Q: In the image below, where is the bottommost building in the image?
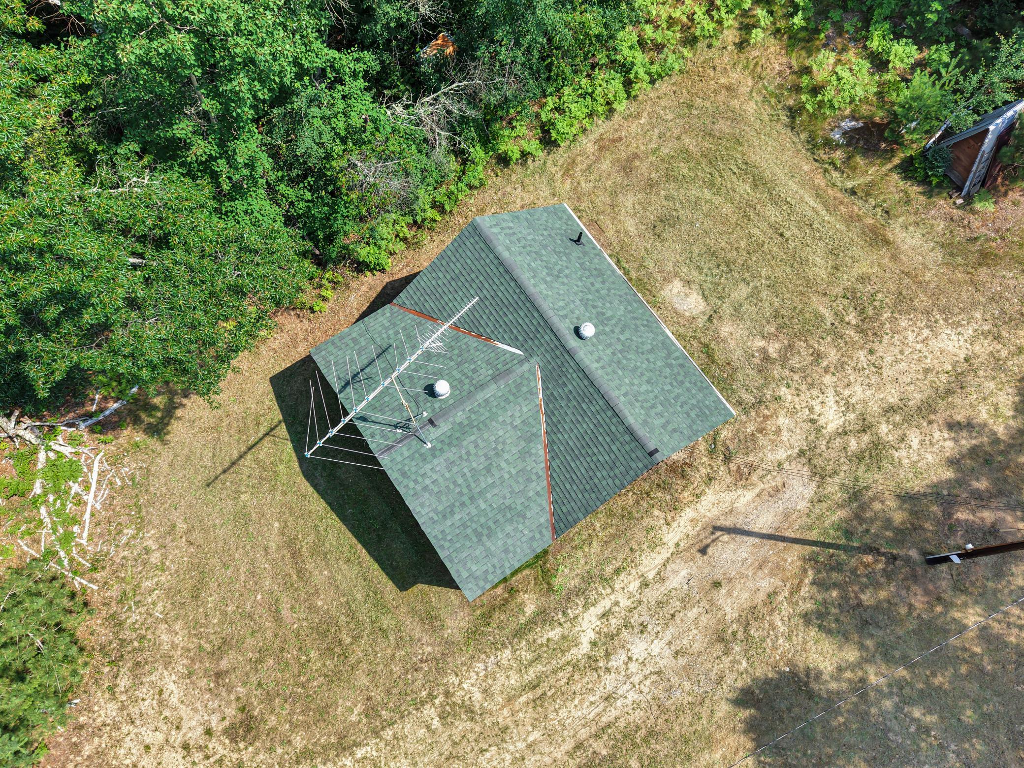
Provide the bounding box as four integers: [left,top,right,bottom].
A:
[311,201,738,601]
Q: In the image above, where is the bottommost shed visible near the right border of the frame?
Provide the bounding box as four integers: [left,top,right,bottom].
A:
[919,103,1024,199]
